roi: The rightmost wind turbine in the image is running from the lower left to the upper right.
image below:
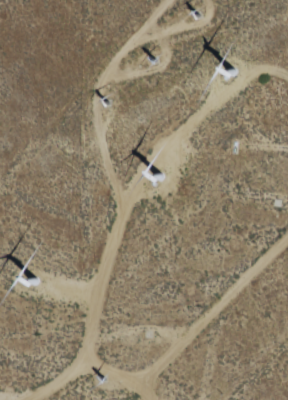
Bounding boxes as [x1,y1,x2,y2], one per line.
[204,38,238,98]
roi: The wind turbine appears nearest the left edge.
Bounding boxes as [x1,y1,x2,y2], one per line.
[2,244,41,306]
